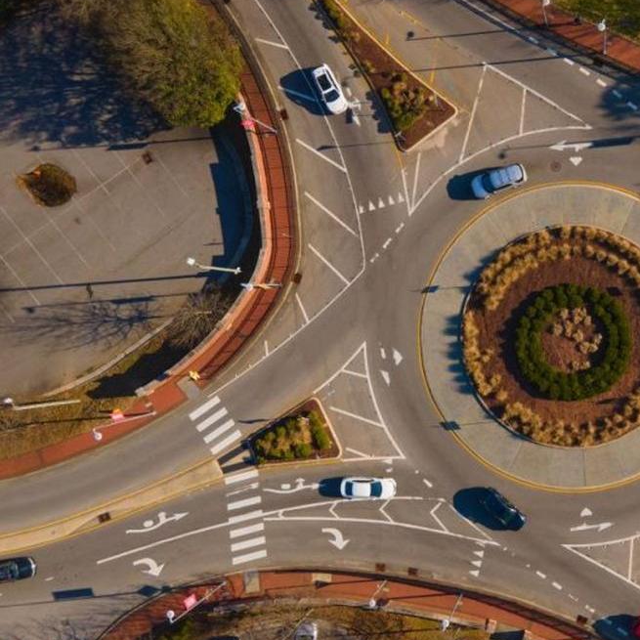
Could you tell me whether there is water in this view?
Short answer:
No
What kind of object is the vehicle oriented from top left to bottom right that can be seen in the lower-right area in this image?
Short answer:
automobile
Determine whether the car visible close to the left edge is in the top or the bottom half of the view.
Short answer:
bottom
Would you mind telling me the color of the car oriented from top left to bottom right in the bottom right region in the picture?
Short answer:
black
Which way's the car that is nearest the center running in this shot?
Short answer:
from left to right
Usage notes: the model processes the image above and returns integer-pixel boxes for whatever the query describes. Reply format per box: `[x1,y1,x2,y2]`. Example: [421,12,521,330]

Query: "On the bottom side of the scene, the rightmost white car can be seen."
[340,475,397,500]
